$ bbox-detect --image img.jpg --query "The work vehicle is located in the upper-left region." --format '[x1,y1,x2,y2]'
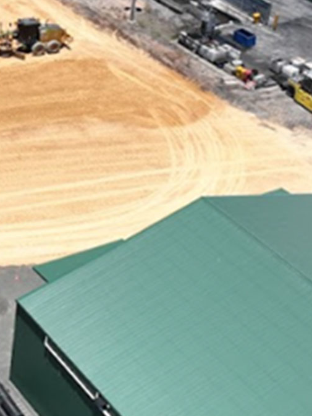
[0,10,70,61]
